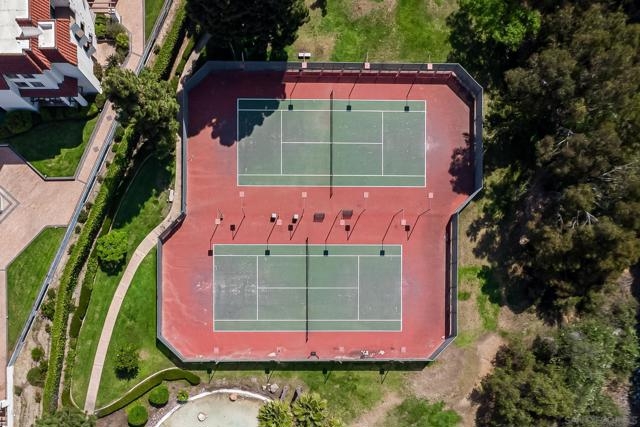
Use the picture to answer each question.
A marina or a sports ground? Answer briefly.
sports ground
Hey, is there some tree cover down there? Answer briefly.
Yes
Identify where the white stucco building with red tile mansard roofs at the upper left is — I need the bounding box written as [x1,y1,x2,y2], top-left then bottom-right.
[0,0,99,112]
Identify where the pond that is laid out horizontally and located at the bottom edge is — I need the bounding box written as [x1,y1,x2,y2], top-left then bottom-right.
[158,392,295,427]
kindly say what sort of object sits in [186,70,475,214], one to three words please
tennis court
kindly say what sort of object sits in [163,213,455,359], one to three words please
tennis court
